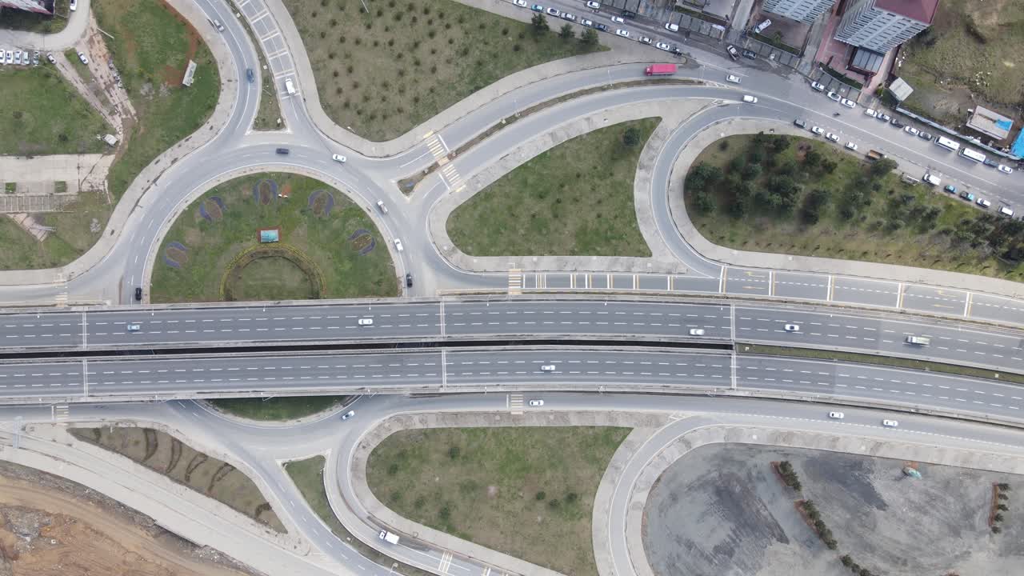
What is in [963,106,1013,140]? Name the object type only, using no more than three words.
shed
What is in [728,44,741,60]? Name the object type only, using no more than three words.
vehicle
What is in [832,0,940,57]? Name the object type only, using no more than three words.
building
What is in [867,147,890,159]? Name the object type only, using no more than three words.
vehicle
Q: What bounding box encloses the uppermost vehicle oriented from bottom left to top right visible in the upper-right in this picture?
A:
[757,17,771,32]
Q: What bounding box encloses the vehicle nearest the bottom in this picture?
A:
[378,531,400,546]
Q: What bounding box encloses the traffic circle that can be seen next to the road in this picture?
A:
[112,134,436,458]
